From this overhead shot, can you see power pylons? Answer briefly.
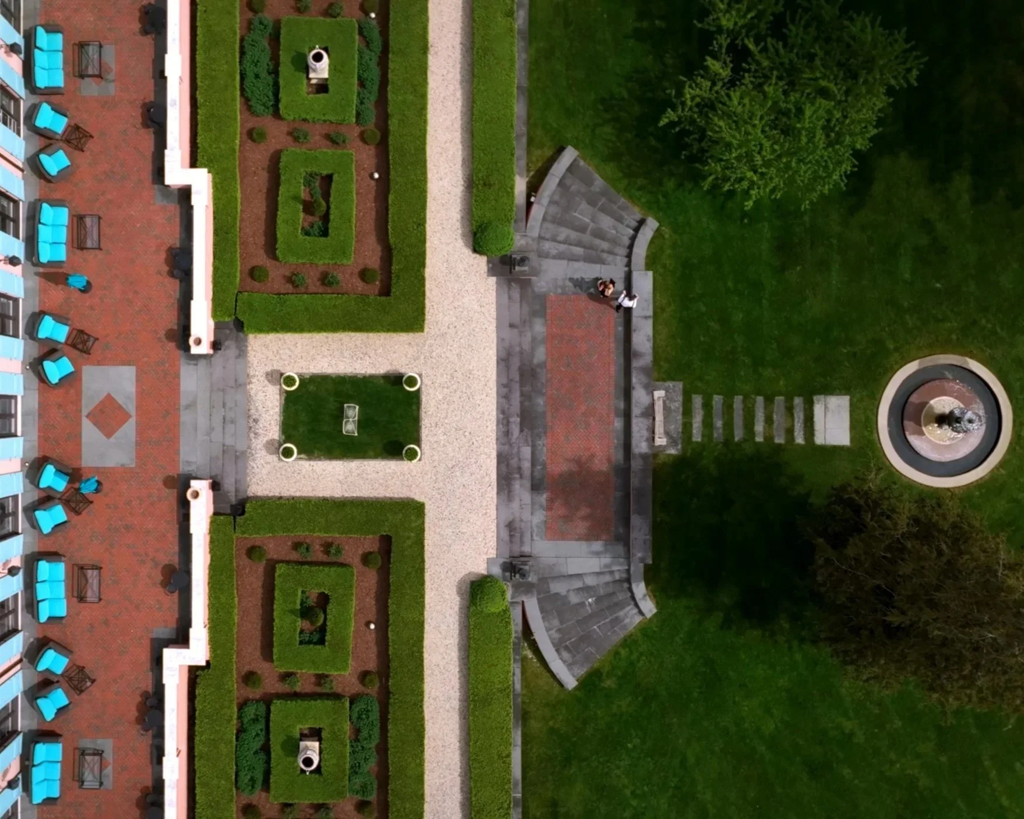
No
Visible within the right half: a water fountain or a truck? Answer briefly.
water fountain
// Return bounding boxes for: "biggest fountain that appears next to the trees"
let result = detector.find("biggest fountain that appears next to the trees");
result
[875,354,1011,488]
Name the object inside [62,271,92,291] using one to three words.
umbrella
